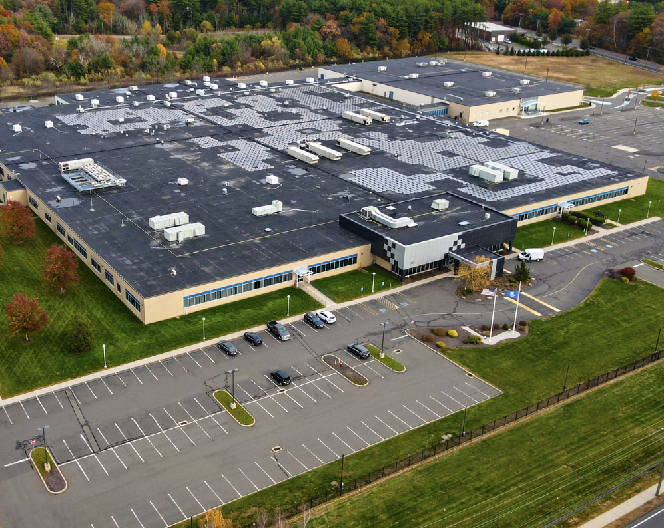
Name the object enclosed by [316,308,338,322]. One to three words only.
car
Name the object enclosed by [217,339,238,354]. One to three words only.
car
